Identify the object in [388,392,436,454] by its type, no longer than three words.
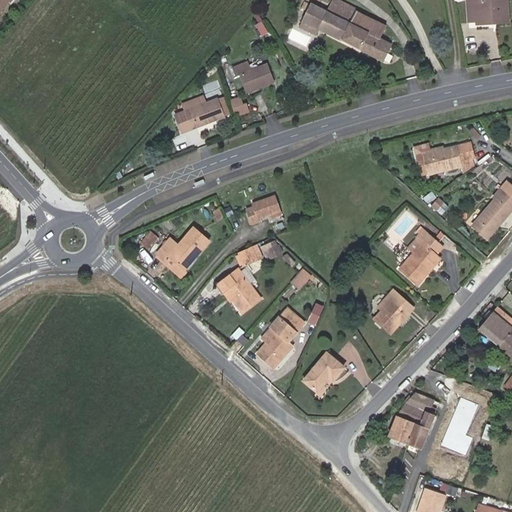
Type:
house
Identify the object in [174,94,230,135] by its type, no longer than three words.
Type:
house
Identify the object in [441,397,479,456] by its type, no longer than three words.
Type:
building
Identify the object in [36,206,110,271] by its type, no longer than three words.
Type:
roundabout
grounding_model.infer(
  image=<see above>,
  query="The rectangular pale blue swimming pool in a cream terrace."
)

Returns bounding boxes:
[393,214,415,238]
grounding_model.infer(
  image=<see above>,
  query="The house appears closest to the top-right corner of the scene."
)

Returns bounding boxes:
[456,0,509,28]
